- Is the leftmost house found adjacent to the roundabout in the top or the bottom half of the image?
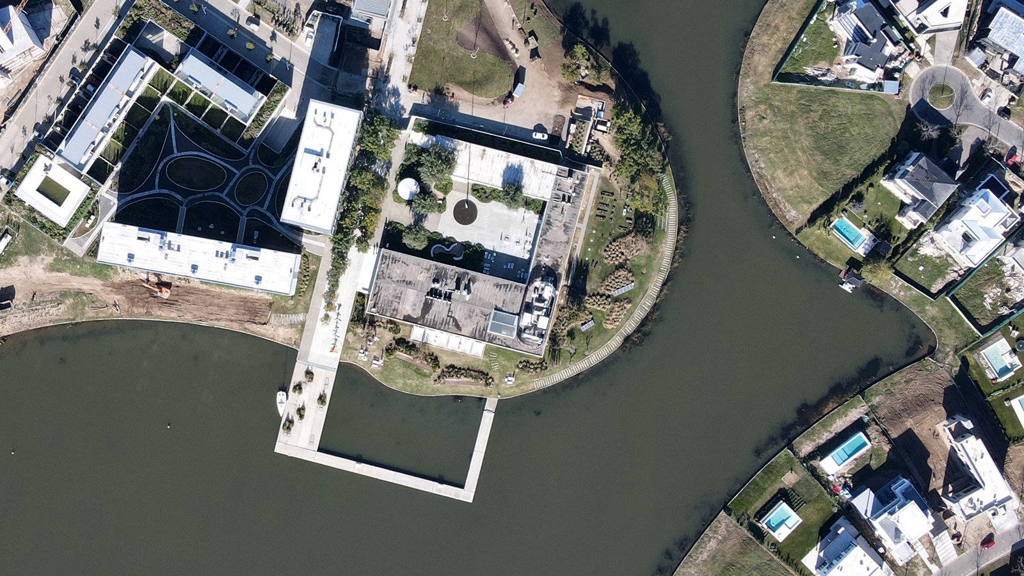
top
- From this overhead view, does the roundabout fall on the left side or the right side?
right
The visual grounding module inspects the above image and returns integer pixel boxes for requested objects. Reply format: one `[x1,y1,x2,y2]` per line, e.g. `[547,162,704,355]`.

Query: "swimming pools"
[1010,393,1024,427]
[819,432,871,475]
[762,502,802,542]
[973,332,1022,382]
[830,216,878,257]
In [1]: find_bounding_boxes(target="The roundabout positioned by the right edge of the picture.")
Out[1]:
[909,64,1024,153]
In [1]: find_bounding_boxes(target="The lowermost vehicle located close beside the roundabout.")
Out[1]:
[1004,153,1019,167]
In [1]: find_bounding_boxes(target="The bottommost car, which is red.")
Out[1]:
[980,537,997,549]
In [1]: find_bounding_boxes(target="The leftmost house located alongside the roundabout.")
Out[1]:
[829,0,900,94]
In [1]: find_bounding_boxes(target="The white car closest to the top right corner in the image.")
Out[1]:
[979,91,994,108]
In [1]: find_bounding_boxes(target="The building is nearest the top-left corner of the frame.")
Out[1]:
[0,6,46,94]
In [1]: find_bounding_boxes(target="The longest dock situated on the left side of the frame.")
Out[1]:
[274,365,494,503]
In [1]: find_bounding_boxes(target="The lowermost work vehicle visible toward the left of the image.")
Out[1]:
[136,279,175,301]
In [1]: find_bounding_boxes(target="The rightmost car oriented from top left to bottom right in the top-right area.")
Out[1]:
[996,107,1013,120]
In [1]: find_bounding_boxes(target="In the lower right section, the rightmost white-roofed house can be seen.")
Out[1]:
[939,413,1013,521]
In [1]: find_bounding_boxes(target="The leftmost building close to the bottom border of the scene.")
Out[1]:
[801,514,897,576]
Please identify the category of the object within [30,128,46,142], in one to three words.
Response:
vehicle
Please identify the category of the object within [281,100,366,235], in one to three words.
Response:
building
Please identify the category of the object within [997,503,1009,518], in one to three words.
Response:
vehicle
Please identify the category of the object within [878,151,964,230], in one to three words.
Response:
house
